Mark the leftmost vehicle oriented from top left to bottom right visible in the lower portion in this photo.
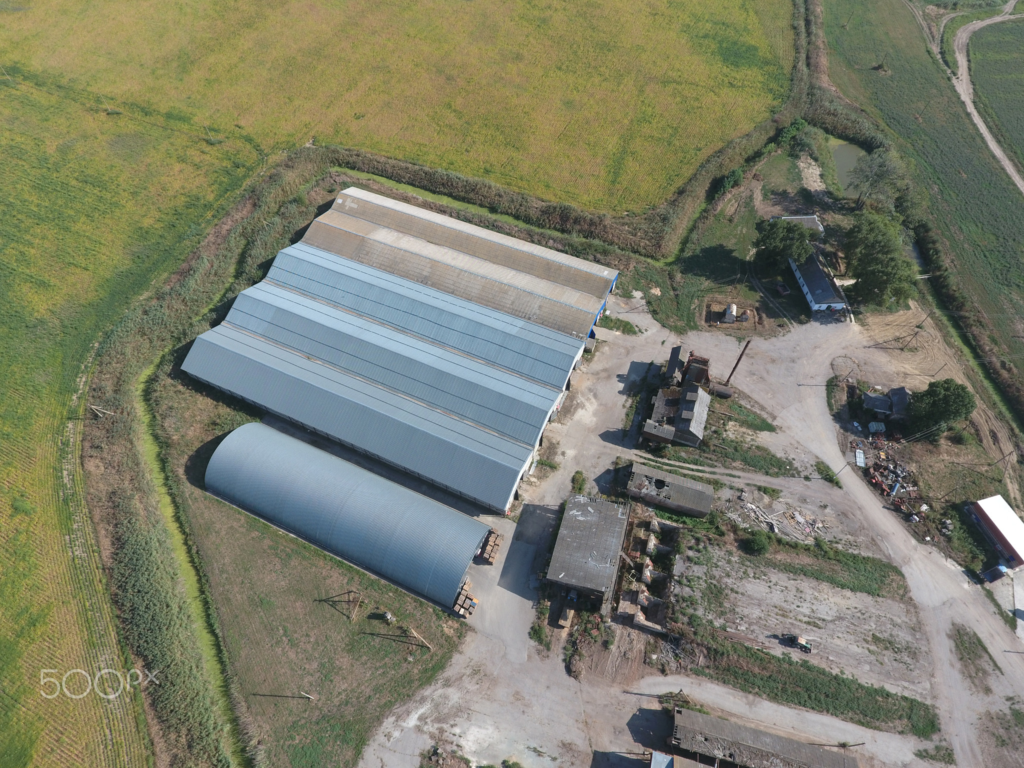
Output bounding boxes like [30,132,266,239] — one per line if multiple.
[782,631,814,655]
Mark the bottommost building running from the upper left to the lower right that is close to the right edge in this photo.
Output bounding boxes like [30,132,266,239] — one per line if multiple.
[968,495,1024,567]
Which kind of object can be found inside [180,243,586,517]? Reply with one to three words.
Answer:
warehouse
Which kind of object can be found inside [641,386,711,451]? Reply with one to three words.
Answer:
building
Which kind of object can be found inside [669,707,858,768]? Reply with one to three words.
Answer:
shed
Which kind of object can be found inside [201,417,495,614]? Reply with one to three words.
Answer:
hangar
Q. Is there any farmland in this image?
Yes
